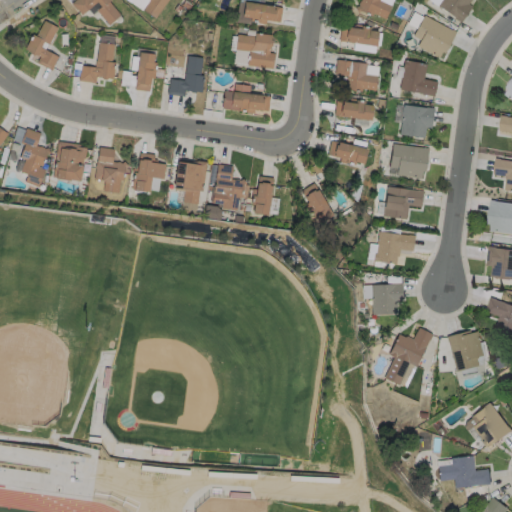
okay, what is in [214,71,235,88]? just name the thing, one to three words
swimming pool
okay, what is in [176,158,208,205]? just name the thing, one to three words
house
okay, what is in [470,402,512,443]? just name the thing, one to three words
house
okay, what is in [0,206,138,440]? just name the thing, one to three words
baseball field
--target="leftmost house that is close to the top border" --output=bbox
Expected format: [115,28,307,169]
[28,20,59,69]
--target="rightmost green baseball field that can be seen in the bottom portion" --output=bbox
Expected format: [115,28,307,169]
[104,234,326,459]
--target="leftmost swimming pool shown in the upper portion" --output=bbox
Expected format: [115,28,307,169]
[4,174,28,190]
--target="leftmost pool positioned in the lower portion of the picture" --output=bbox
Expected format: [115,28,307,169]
[372,354,388,377]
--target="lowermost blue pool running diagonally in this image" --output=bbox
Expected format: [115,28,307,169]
[446,407,467,426]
